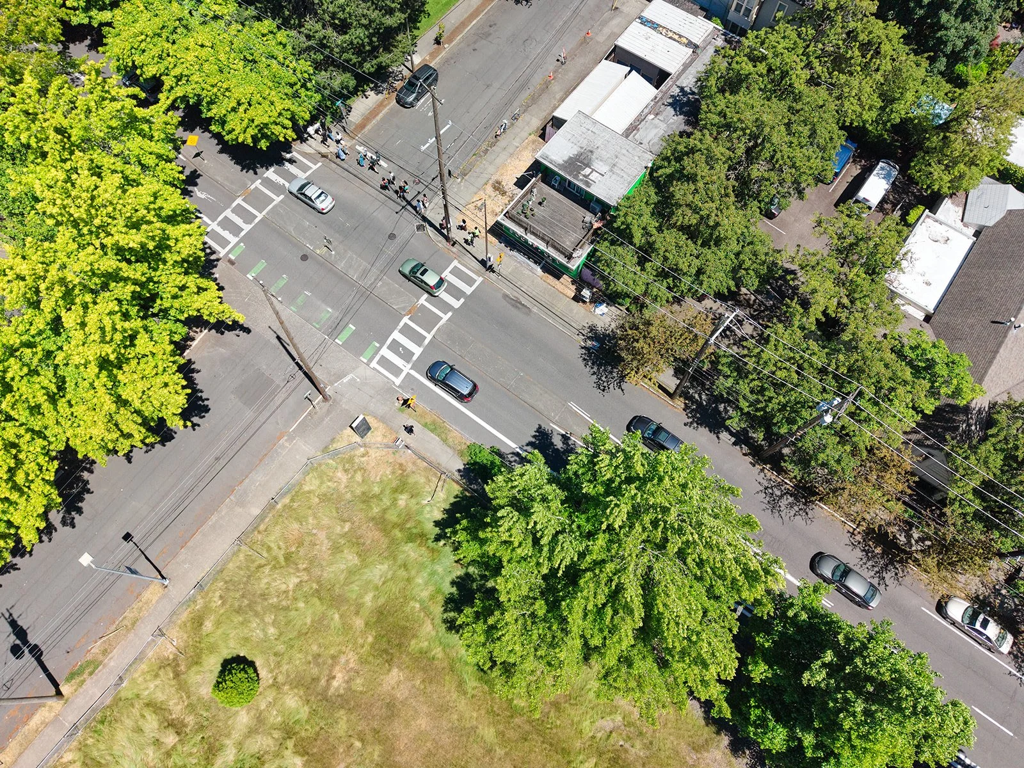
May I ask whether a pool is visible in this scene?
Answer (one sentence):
No, the picture doesn't show any pool.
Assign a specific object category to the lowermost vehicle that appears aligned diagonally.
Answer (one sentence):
It looks like the lowermost vehicle that appears aligned diagonally is a car.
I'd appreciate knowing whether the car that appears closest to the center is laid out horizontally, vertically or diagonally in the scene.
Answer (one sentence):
The car that appears closest to the center has been laid out diagonally relative to the frame.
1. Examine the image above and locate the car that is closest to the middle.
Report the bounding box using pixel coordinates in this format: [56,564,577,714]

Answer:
[423,358,481,407]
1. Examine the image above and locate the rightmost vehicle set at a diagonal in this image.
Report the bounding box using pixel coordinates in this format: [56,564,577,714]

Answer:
[939,597,1018,658]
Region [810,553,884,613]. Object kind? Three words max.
car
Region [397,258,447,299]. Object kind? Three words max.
car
